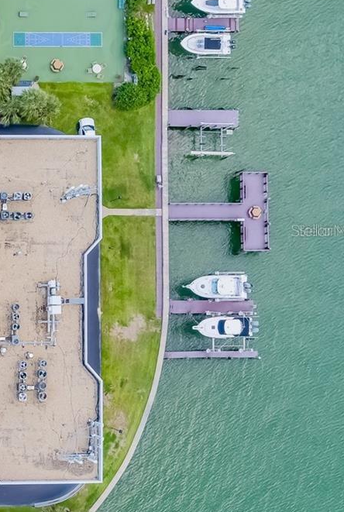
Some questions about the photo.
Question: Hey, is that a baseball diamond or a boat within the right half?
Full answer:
The one visible within the right half is a boat.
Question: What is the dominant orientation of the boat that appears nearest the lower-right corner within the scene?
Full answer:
I'd say the boat that appears nearest the lower-right corner is aligned from side to side in the picture.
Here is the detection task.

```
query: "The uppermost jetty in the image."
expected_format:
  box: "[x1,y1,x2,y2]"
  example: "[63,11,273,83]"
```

[168,15,239,35]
